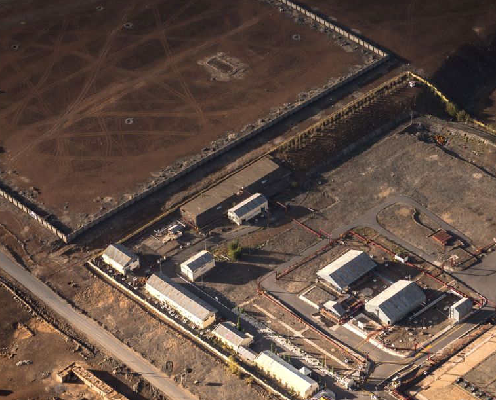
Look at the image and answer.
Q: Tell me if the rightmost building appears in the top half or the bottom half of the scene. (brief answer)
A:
bottom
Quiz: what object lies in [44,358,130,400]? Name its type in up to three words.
building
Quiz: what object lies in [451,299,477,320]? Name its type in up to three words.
building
